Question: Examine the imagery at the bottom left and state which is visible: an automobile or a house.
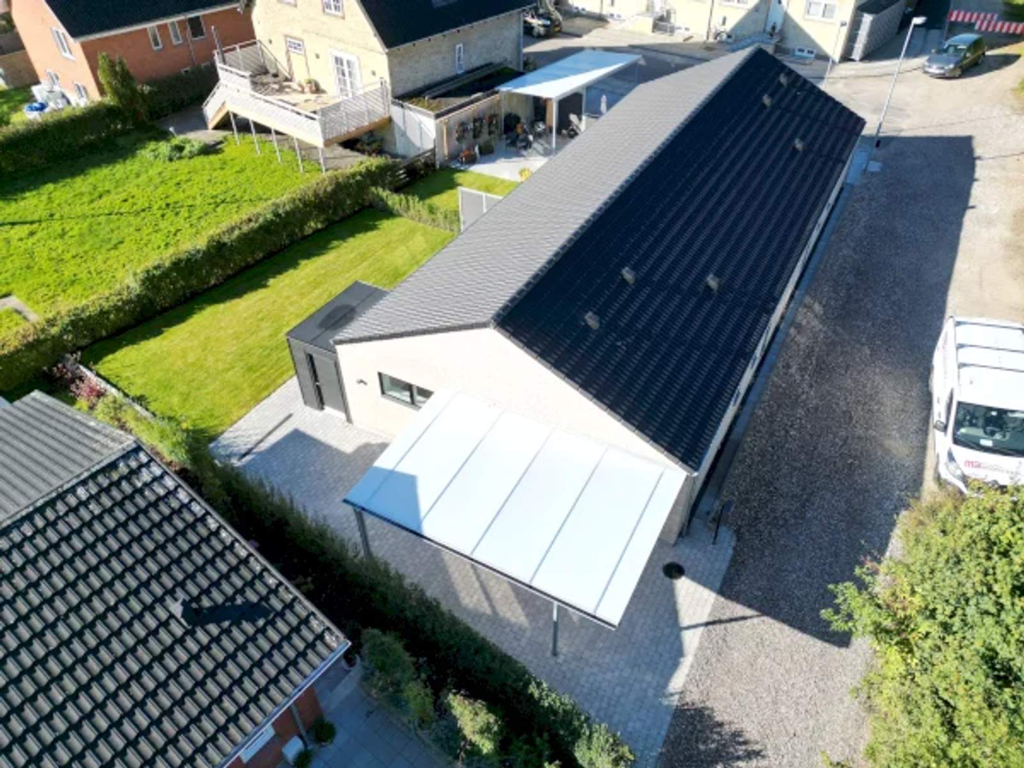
house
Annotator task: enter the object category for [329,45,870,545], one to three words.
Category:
house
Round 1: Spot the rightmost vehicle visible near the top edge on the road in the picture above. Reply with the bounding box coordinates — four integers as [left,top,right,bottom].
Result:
[929,30,988,75]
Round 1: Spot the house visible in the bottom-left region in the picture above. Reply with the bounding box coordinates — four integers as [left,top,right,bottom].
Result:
[0,392,350,768]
